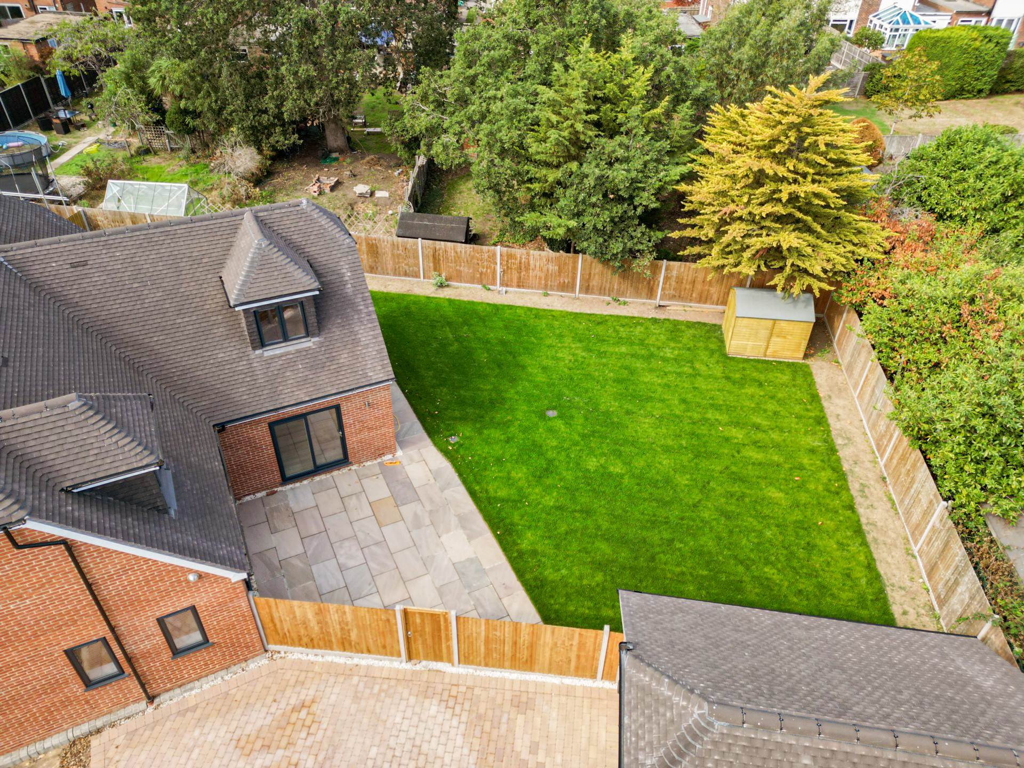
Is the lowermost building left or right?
right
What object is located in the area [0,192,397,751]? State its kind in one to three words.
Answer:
house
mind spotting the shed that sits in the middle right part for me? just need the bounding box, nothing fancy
[720,284,819,361]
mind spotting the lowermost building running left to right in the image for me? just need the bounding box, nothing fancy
[613,586,1024,768]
